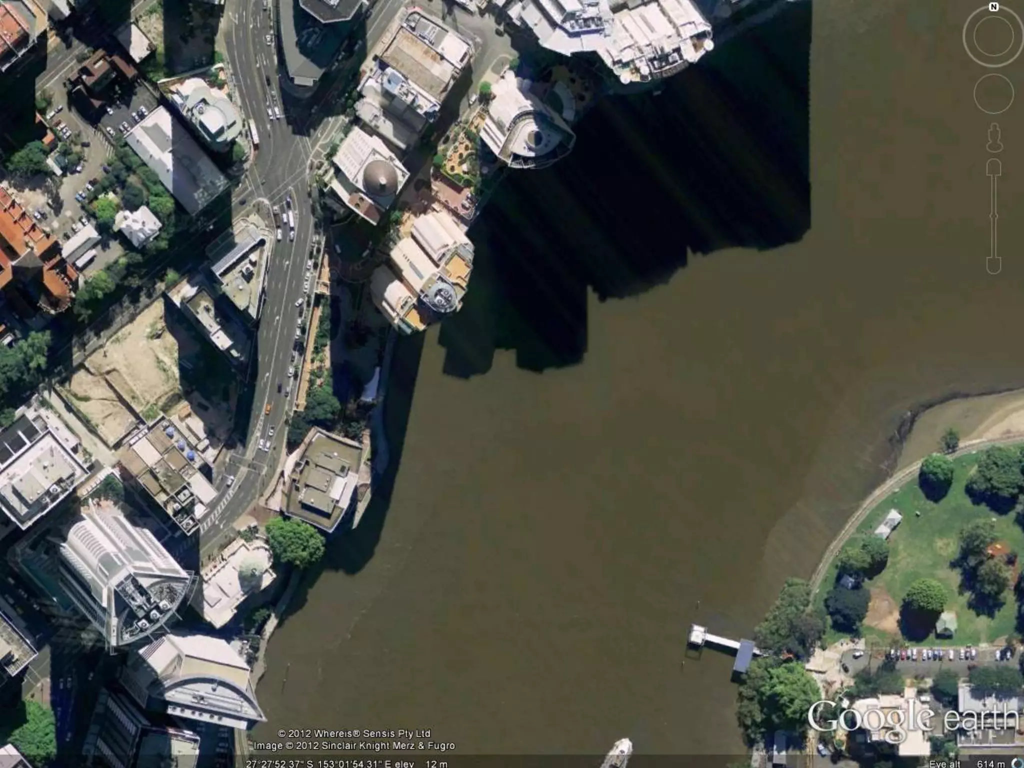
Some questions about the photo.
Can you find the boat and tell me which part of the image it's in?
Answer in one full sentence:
Look in the bottom portion of the view to spot the boat.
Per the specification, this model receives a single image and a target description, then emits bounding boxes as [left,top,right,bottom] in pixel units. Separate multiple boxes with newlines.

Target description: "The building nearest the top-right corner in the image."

[592,0,712,83]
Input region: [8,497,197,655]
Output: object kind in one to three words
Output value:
building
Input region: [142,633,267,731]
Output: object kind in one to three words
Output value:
building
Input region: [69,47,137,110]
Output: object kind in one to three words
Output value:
house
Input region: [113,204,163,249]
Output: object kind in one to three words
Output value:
house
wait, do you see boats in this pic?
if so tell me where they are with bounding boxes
[605,739,632,768]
